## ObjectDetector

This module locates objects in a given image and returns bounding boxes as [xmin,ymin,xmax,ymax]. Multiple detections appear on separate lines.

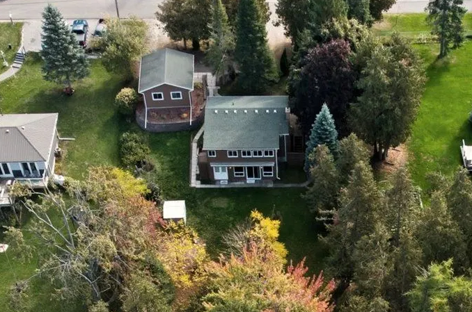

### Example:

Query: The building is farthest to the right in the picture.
[202,83,297,187]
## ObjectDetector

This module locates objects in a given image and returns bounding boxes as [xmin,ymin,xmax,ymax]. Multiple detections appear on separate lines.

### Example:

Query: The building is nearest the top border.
[138,43,197,114]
